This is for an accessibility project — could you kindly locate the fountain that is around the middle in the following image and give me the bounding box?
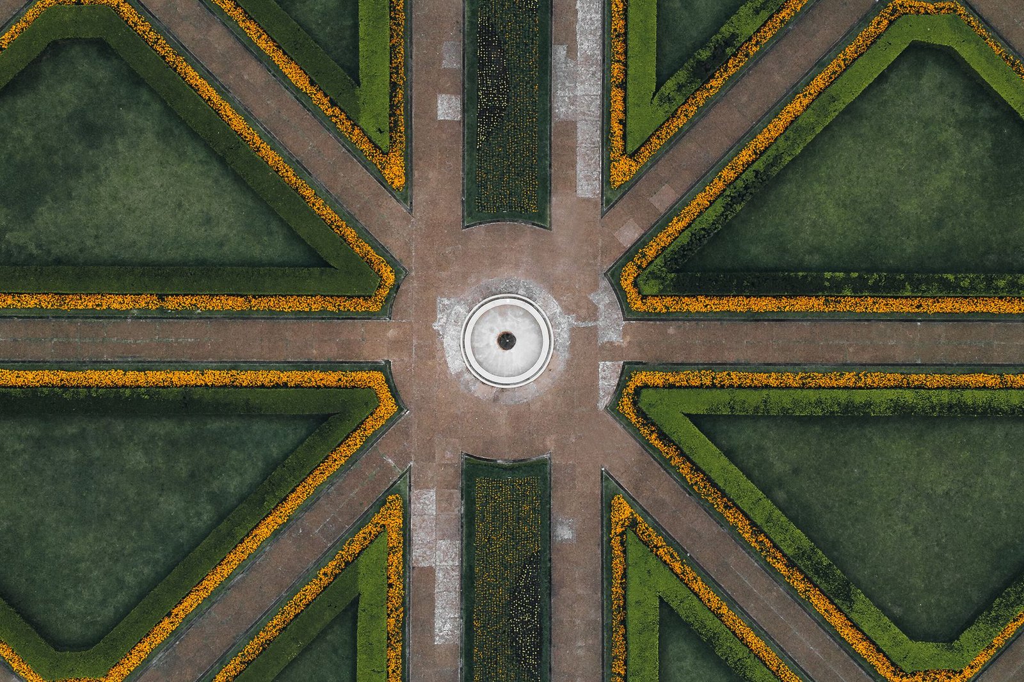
[460,294,554,387]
